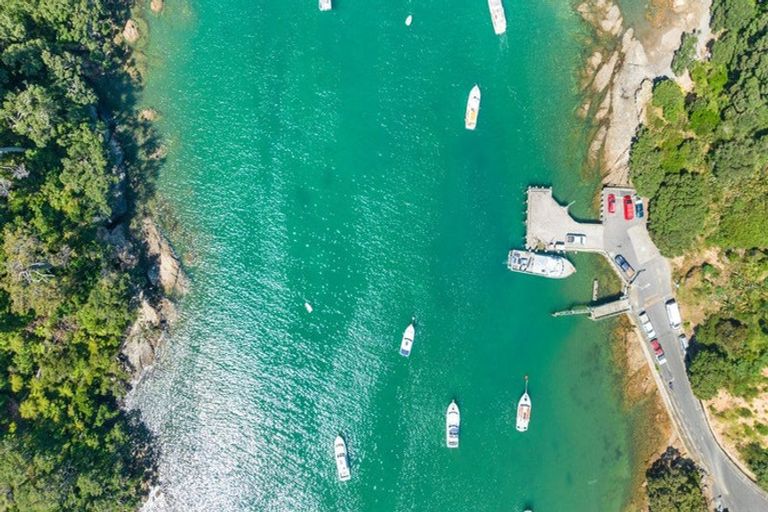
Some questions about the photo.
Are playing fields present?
No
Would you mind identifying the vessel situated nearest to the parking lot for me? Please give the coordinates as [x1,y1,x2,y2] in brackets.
[502,250,576,276]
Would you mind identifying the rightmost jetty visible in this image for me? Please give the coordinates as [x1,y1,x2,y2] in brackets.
[586,299,630,319]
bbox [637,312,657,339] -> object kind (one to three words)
vehicle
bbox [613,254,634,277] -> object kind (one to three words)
truck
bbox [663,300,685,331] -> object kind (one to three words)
vehicle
